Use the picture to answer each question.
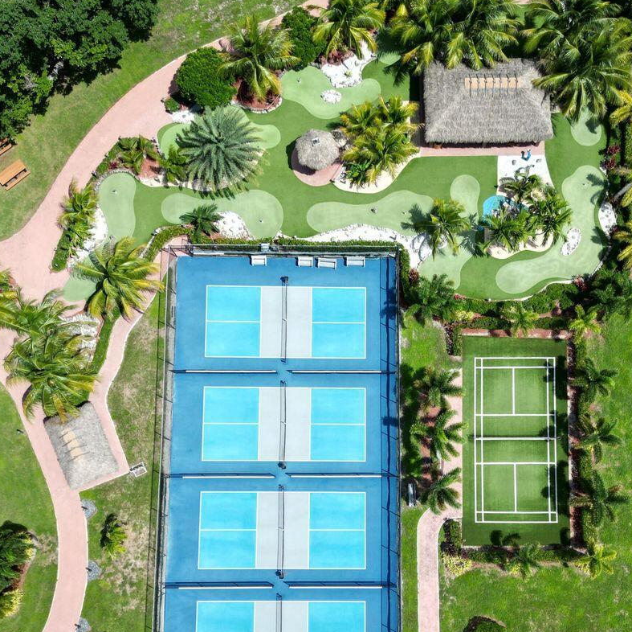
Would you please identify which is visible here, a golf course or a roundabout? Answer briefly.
golf course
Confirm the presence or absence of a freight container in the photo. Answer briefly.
No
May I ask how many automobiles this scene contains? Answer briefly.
none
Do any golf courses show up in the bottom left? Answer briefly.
No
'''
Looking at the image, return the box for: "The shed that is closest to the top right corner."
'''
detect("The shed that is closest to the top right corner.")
[422,64,556,145]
